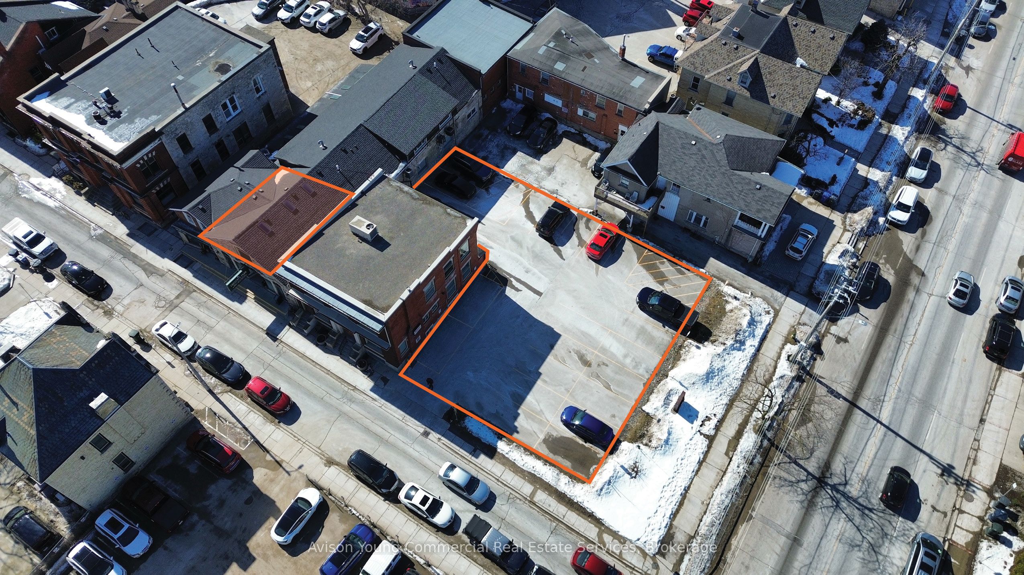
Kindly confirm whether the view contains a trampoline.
No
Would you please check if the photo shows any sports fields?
No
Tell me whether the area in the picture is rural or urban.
urban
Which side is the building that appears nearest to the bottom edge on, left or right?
left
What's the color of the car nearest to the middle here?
black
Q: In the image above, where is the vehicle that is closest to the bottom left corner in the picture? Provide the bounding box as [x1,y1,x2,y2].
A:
[0,508,66,559]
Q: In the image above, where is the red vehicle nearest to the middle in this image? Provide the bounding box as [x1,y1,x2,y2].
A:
[587,223,620,260]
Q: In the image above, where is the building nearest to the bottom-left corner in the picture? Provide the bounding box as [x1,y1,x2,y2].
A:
[0,299,190,522]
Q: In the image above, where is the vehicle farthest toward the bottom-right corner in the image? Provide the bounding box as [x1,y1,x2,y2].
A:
[899,524,947,575]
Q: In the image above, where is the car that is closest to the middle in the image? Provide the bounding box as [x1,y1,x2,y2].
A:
[535,200,571,241]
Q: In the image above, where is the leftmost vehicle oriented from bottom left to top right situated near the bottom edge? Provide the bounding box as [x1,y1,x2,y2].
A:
[265,489,326,547]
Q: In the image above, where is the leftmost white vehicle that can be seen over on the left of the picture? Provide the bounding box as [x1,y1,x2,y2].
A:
[0,218,61,256]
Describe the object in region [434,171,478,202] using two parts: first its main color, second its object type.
black car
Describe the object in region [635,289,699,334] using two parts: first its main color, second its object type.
black truck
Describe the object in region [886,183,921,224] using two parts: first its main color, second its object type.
white car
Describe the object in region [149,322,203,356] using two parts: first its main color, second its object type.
white car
